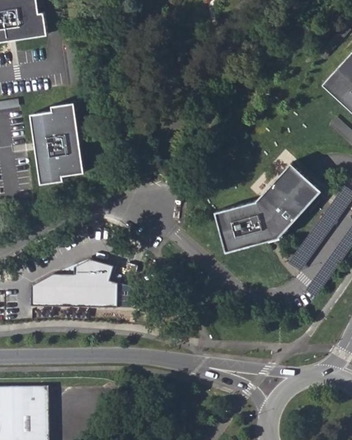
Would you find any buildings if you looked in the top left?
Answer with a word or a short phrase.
Yes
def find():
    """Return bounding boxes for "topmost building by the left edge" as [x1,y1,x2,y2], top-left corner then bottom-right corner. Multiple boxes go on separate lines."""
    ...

[0,0,49,44]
